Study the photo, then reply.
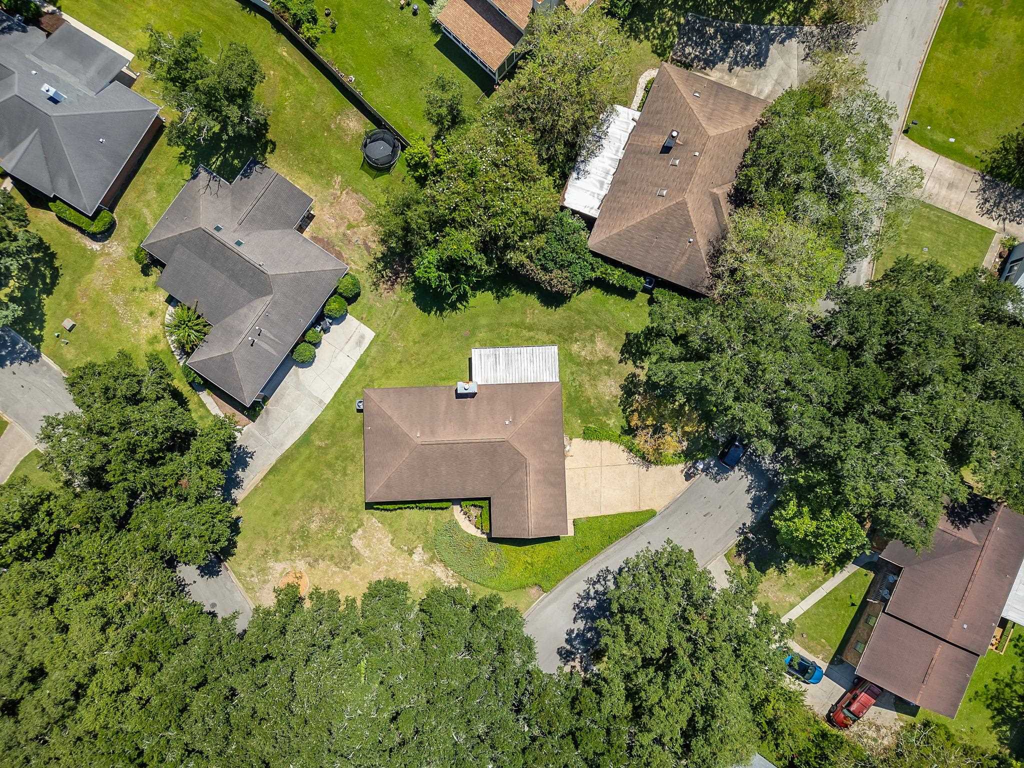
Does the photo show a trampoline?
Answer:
Yes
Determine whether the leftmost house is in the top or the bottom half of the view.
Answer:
top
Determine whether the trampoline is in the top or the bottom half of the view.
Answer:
top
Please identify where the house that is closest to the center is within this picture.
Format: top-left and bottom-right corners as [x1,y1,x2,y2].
[362,381,569,539]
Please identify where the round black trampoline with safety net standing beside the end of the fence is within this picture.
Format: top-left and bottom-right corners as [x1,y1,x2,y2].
[357,118,400,168]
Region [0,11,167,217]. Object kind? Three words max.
house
